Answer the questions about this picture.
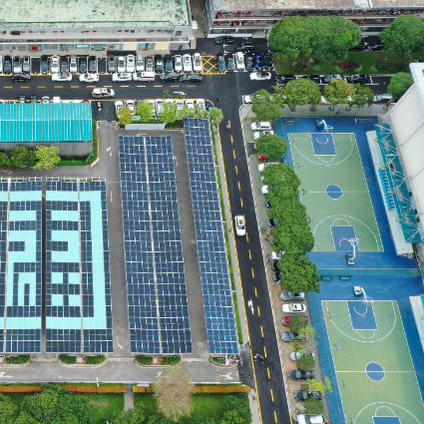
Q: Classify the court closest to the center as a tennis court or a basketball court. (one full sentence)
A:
From above, the court closest to the center can be identified as a basketball court.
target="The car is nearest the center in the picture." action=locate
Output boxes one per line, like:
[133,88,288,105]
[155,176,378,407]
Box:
[234,216,247,237]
